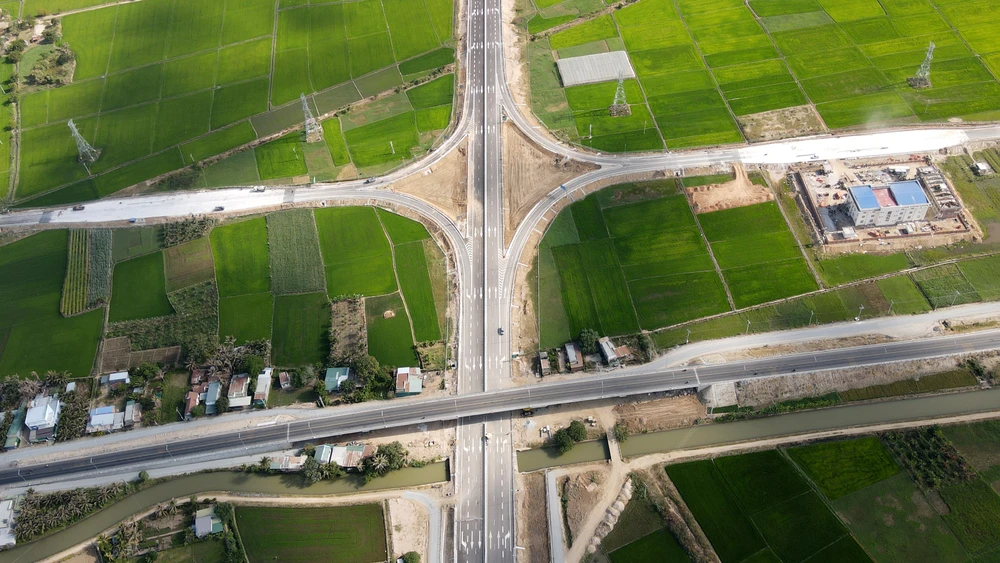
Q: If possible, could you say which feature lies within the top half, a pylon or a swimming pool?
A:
pylon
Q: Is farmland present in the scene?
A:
Yes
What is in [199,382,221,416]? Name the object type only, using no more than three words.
house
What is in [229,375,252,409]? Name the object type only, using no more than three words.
house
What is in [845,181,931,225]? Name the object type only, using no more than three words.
building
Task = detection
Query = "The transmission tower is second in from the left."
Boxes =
[303,93,321,139]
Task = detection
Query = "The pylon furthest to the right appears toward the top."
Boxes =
[910,43,933,88]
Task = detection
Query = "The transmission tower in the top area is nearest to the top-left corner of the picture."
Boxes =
[68,120,96,164]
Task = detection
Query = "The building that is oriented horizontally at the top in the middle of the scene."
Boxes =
[558,51,635,90]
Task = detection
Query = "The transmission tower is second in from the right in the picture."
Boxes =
[612,70,628,116]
